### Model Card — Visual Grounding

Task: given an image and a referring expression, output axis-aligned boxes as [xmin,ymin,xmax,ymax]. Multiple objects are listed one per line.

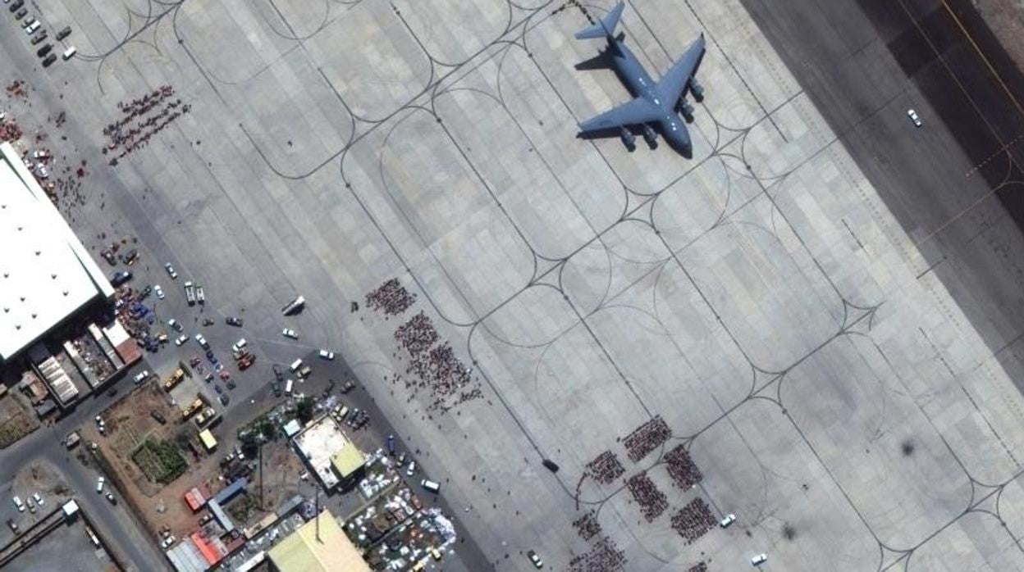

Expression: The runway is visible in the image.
[856,0,1024,236]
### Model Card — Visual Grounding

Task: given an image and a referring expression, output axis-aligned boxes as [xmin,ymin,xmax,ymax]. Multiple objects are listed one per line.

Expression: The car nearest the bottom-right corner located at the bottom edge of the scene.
[750,554,767,566]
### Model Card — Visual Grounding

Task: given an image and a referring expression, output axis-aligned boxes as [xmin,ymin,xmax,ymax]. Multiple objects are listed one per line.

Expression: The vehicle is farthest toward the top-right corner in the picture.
[907,110,922,126]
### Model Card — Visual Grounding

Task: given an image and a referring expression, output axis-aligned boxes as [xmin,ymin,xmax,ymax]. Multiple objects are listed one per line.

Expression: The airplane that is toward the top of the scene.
[571,2,704,157]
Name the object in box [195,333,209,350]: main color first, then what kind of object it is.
white vehicle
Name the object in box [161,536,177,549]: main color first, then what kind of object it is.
white vehicle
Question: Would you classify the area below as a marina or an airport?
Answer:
airport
